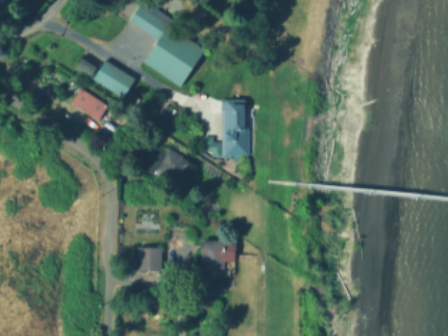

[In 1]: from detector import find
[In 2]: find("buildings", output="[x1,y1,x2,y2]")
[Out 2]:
[206,99,251,162]
[202,242,236,272]
[130,6,204,86]
[76,57,98,77]
[150,144,196,184]
[137,248,163,272]
[94,60,134,97]
[72,90,108,122]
